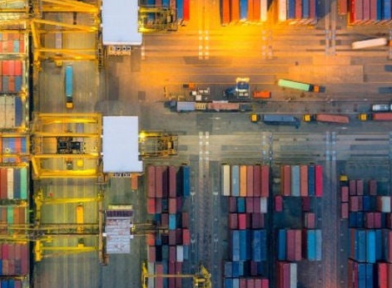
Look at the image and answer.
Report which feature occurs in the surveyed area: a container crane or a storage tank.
container crane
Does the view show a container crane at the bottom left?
Yes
